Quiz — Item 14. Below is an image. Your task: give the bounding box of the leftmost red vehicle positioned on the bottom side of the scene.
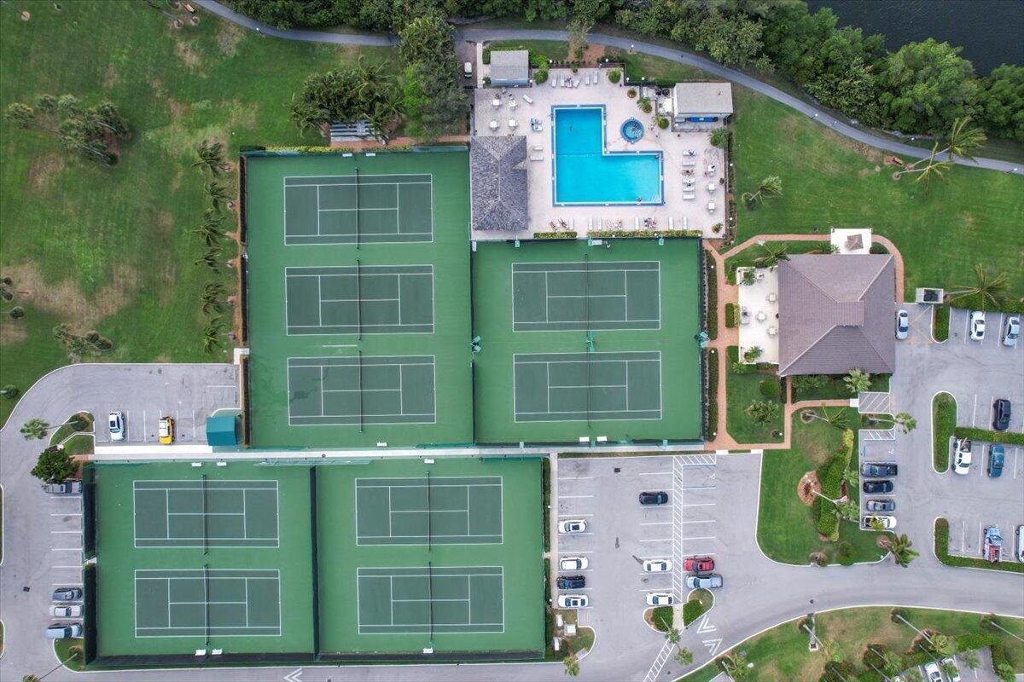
[682,557,714,572]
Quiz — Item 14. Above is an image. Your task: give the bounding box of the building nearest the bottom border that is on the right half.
[778,253,896,376]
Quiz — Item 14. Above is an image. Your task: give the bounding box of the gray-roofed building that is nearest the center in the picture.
[471,132,528,230]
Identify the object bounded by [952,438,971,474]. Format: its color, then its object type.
white vehicle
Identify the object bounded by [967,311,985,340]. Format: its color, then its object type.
white car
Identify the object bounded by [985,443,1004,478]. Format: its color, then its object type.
blue car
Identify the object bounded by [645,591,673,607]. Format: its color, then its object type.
white car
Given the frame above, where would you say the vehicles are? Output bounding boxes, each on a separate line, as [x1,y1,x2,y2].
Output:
[985,443,1004,478]
[44,480,83,496]
[51,603,84,619]
[54,586,85,602]
[861,480,892,494]
[992,399,1010,430]
[967,311,985,340]
[464,64,472,80]
[859,463,898,478]
[864,499,895,513]
[558,594,589,609]
[638,491,668,505]
[642,558,672,573]
[1001,316,1019,347]
[686,572,723,589]
[45,622,83,639]
[924,660,944,682]
[559,556,588,571]
[645,591,673,607]
[682,557,714,572]
[556,574,586,590]
[157,415,175,444]
[952,438,971,474]
[894,309,910,339]
[558,519,587,534]
[110,411,127,440]
[982,525,1002,562]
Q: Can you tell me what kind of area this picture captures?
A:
sports ground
